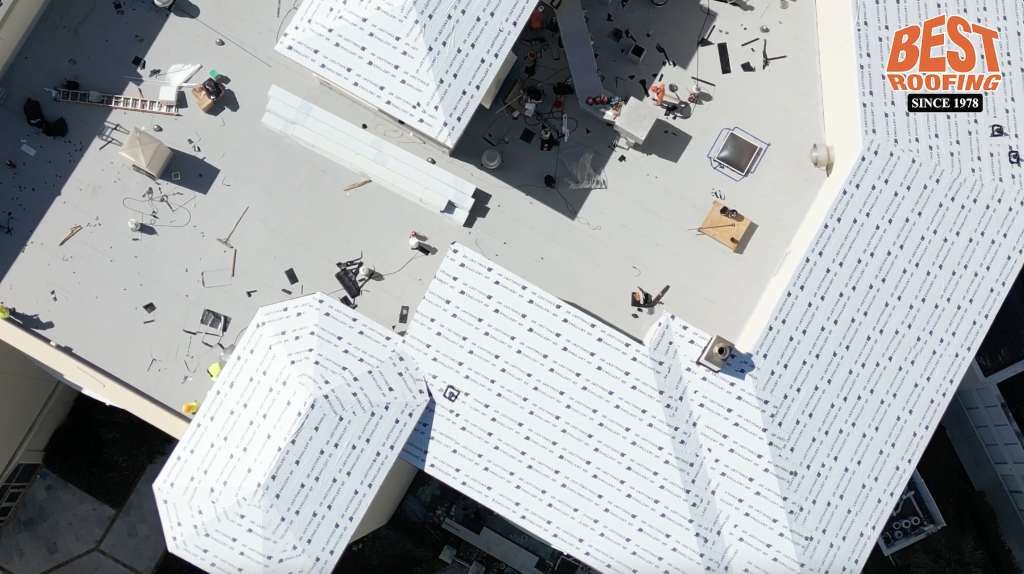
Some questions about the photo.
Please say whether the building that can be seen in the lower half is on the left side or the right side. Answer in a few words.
left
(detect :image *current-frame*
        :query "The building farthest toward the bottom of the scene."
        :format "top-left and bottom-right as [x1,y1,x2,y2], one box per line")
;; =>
[155,292,429,574]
